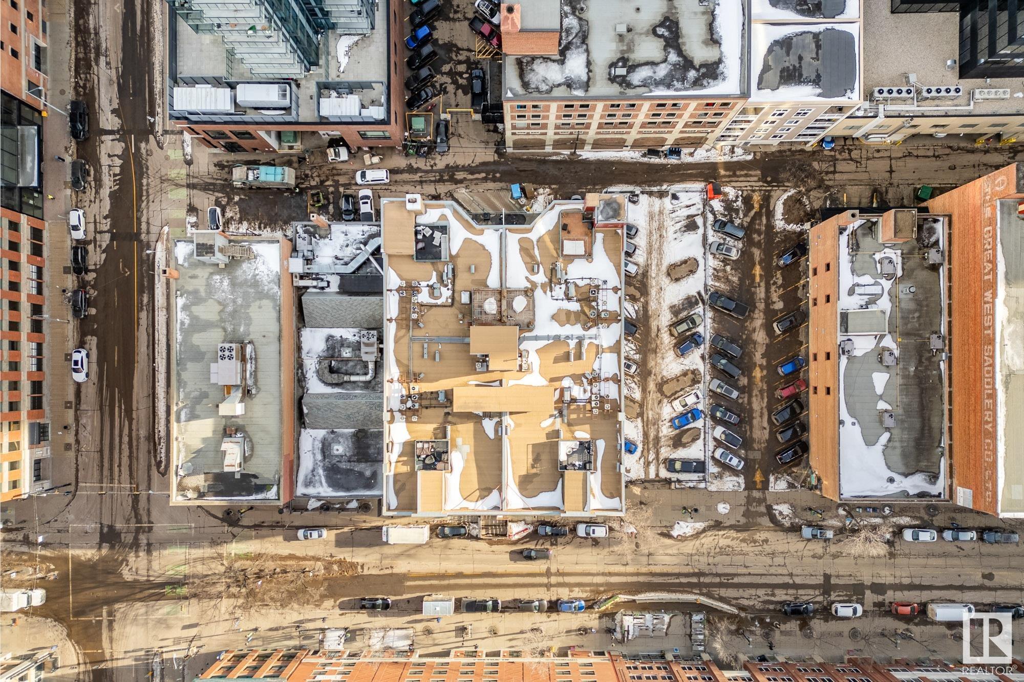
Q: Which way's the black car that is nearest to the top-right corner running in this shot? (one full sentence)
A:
The black car that is nearest to the top-right corner runs on a diagonal in the image.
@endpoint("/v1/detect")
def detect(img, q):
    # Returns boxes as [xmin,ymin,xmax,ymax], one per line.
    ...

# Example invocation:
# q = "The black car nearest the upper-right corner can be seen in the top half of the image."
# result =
[775,241,808,269]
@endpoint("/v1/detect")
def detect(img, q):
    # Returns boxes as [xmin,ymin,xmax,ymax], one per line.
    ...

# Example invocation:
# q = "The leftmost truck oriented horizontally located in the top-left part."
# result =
[228,164,297,186]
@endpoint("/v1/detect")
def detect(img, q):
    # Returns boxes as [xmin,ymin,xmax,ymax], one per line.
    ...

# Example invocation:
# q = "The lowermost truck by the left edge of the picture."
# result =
[0,589,51,615]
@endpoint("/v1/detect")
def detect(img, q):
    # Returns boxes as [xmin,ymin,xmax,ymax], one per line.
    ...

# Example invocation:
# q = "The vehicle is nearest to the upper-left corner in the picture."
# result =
[68,100,88,141]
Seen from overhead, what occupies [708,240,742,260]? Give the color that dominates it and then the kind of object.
gray car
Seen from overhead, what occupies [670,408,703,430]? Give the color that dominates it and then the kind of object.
blue car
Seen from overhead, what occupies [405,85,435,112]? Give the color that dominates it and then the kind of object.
black car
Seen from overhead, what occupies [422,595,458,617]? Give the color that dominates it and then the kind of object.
white trailer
